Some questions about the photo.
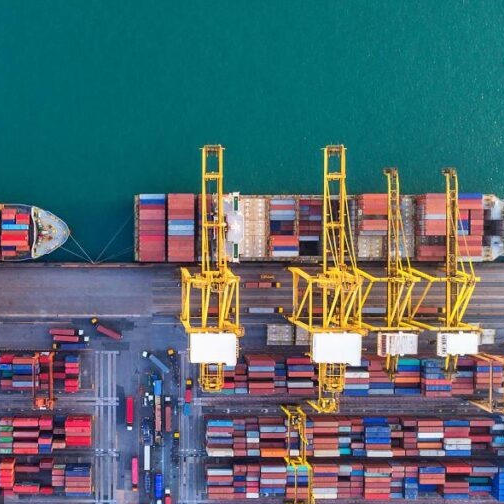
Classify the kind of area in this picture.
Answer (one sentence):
It's a port.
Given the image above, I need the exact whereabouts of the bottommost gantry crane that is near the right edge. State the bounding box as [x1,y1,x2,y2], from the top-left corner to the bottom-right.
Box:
[469,351,504,414]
